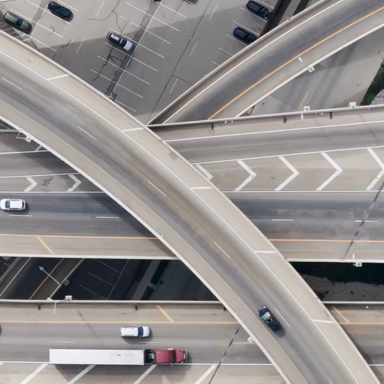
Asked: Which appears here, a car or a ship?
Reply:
car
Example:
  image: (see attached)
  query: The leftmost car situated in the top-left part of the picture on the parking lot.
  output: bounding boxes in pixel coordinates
[0,9,31,34]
